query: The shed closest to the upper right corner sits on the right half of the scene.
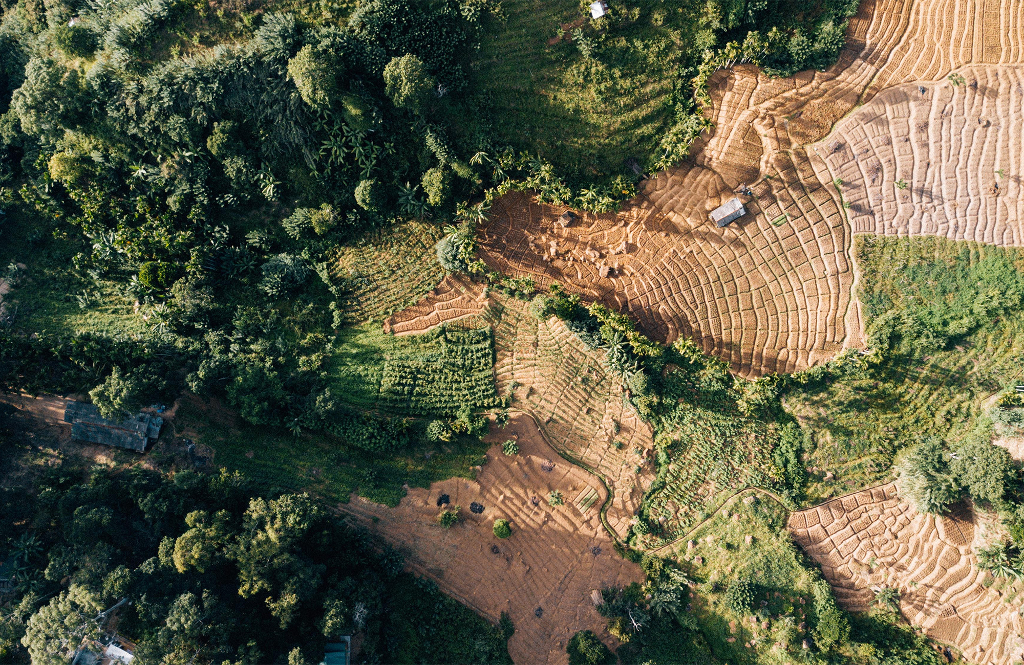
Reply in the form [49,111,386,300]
[707,197,747,230]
